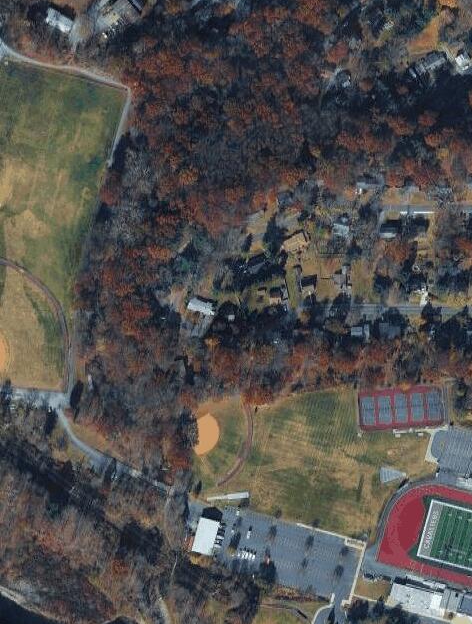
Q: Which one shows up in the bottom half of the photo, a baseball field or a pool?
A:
baseball field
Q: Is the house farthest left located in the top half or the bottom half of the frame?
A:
top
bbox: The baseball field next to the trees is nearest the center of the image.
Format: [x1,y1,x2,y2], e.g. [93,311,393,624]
[193,400,253,487]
